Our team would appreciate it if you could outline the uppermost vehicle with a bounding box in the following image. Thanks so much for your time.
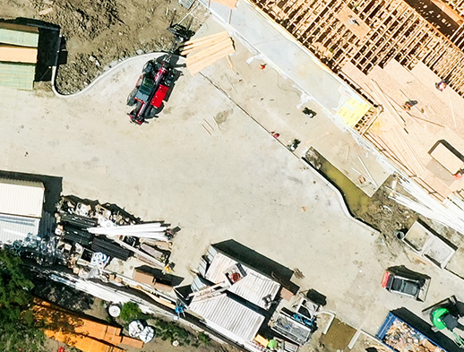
[125,26,182,118]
